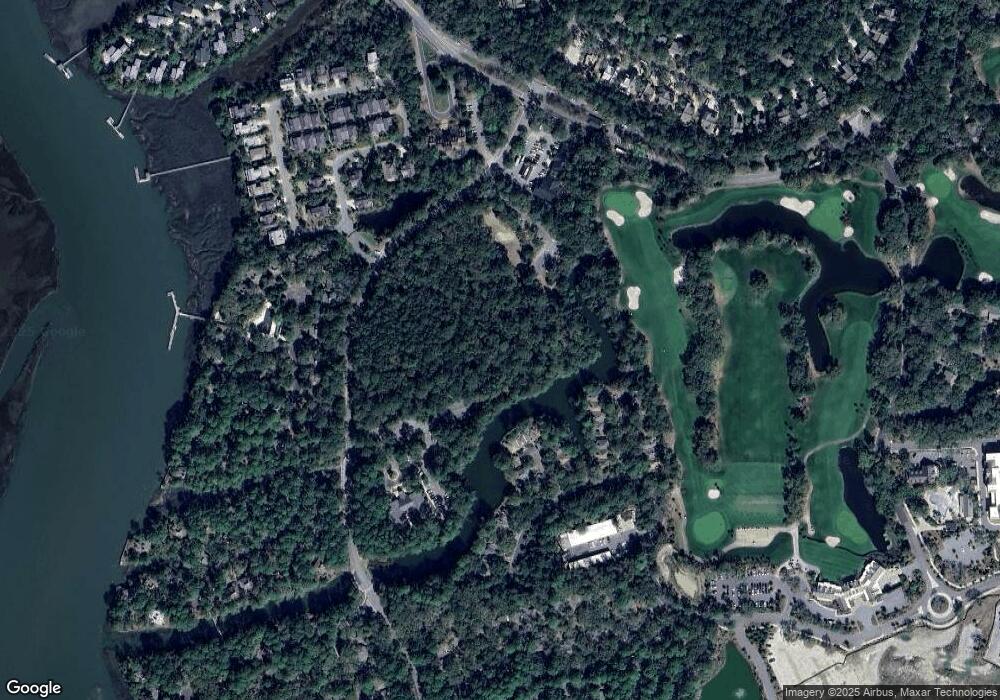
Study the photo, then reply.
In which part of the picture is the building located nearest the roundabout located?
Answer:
bottom right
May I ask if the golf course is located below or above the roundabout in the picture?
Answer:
above it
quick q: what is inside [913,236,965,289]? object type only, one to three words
pond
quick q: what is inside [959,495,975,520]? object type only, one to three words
building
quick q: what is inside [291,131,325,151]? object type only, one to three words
house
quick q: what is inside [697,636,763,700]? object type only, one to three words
pond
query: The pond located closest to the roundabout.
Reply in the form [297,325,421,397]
[839,447,888,551]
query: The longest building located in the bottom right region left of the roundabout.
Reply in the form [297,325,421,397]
[813,559,900,611]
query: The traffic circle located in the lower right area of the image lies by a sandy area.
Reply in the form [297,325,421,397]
[921,585,960,624]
